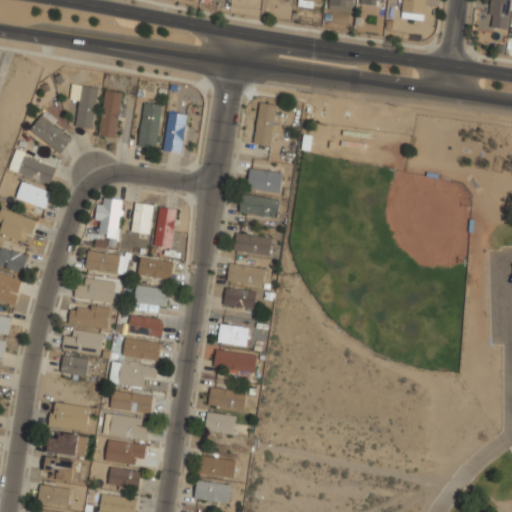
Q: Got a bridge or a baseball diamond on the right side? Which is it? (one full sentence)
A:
The one visible on the right side is a baseball diamond.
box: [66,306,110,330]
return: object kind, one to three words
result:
house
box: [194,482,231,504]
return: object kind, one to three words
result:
house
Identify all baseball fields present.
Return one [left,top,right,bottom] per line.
[290,152,472,373]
